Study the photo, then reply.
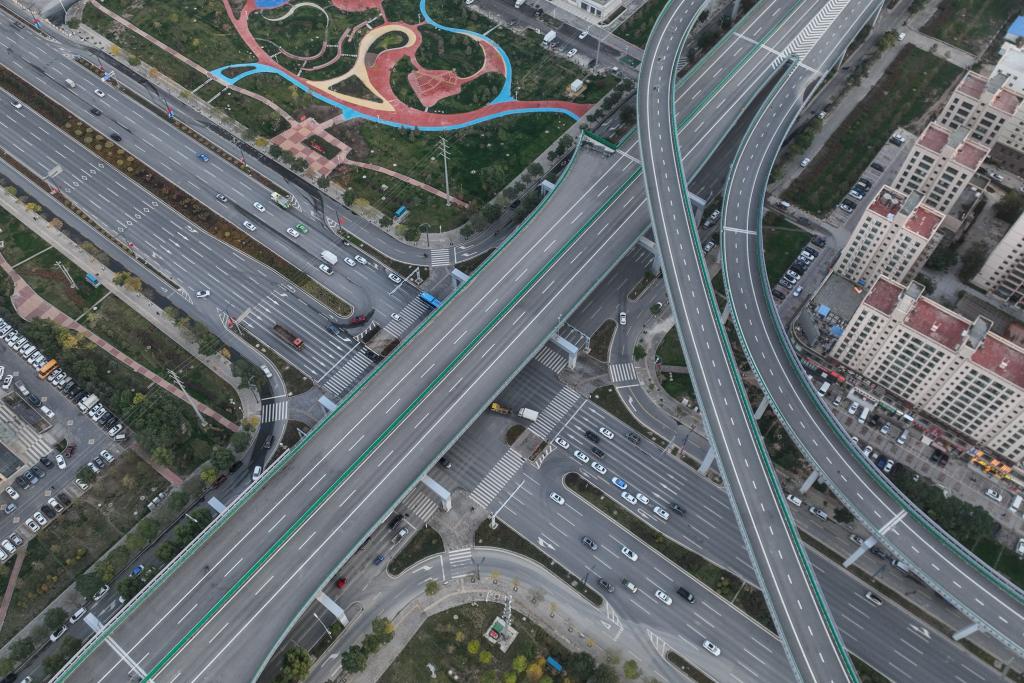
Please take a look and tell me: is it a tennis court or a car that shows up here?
car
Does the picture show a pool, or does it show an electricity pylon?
electricity pylon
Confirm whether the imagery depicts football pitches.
No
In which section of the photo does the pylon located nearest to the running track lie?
top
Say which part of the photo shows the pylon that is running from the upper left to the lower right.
left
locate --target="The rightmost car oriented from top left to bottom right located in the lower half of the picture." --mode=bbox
[984,488,1003,502]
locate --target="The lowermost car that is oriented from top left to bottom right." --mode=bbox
[702,640,721,656]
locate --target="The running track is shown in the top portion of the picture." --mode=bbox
[215,0,578,130]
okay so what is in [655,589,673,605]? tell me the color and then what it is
white car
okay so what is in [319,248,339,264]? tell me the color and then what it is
white vehicle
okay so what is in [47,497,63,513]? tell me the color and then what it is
white vehicle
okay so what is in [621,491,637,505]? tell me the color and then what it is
white car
